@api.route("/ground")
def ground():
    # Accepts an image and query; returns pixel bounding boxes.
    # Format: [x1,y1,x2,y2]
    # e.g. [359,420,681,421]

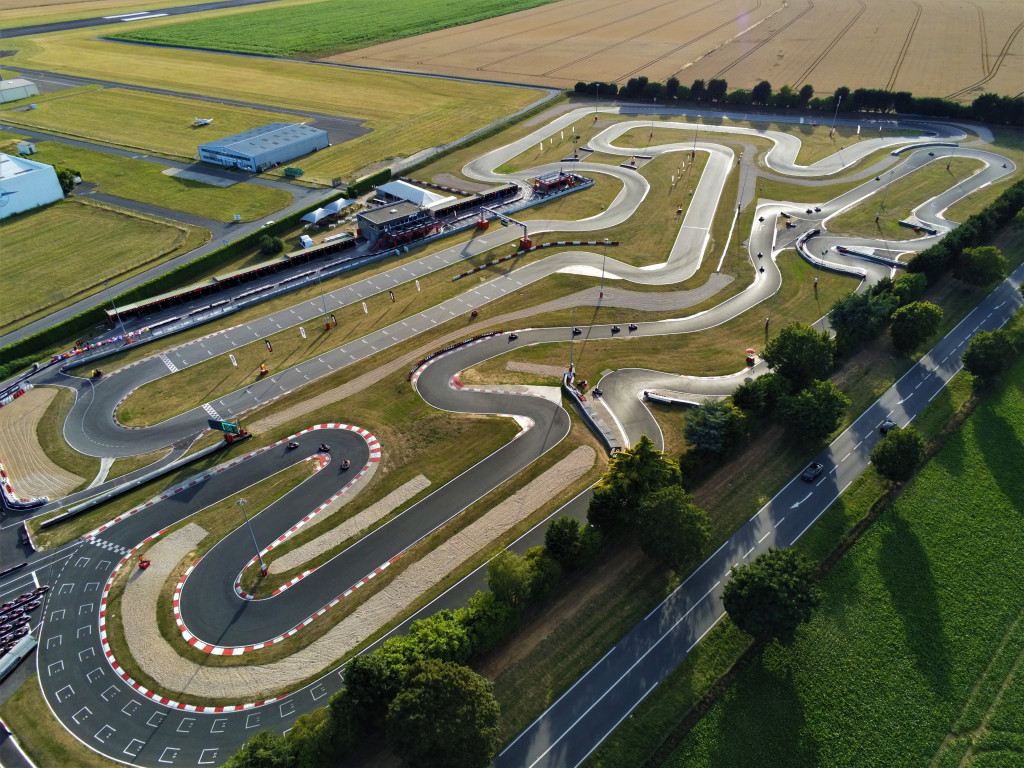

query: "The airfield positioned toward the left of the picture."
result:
[0,0,548,337]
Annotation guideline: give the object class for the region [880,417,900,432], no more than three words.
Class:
car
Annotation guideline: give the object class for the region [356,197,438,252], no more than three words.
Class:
building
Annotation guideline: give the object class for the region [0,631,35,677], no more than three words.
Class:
trailer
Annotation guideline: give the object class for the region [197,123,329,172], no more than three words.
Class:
hangar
